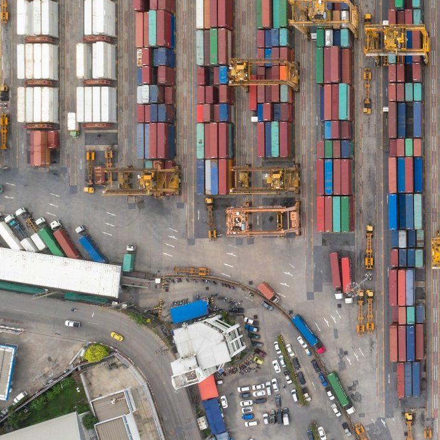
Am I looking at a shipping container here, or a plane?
shipping container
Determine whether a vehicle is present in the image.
Yes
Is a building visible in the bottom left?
Yes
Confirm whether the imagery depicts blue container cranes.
No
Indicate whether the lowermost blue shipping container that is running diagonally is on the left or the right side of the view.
right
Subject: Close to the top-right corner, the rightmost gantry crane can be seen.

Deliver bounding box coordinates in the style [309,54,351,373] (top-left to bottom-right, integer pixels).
[362,23,430,66]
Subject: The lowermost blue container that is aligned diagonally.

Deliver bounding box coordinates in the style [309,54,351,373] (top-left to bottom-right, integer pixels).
[294,314,321,347]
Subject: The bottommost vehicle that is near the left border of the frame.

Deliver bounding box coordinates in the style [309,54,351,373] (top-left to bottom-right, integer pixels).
[11,387,32,406]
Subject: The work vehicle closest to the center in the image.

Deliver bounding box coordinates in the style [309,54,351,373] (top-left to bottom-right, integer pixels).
[206,196,219,247]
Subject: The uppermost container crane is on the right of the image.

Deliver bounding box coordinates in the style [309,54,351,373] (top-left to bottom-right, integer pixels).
[288,0,359,39]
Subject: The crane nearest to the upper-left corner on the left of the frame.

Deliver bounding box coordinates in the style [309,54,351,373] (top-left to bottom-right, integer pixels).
[94,163,180,199]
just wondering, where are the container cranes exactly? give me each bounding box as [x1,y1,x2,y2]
[362,23,430,66]
[288,0,359,39]
[225,201,302,239]
[225,54,300,95]
[226,163,301,199]
[94,163,180,199]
